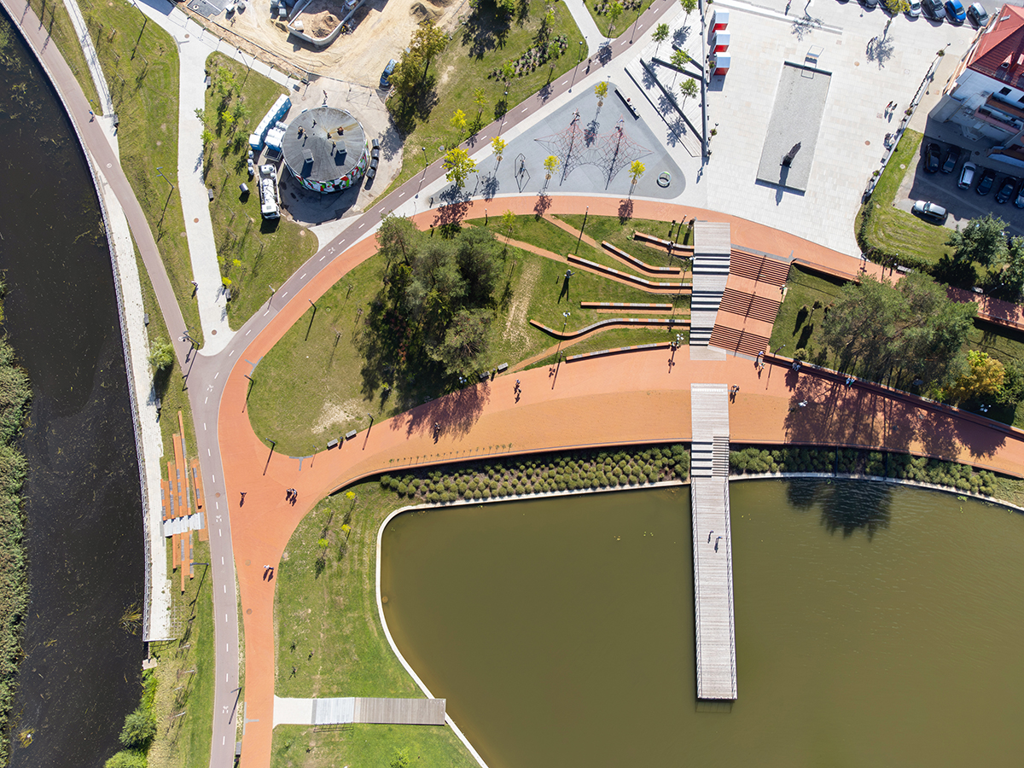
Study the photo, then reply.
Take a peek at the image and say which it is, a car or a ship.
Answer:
car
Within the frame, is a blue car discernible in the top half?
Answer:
Yes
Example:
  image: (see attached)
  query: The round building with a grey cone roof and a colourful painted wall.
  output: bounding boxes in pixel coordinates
[278,103,369,195]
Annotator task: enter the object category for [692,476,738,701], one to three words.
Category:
pier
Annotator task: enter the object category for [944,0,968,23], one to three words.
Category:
car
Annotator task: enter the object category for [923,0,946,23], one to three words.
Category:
car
